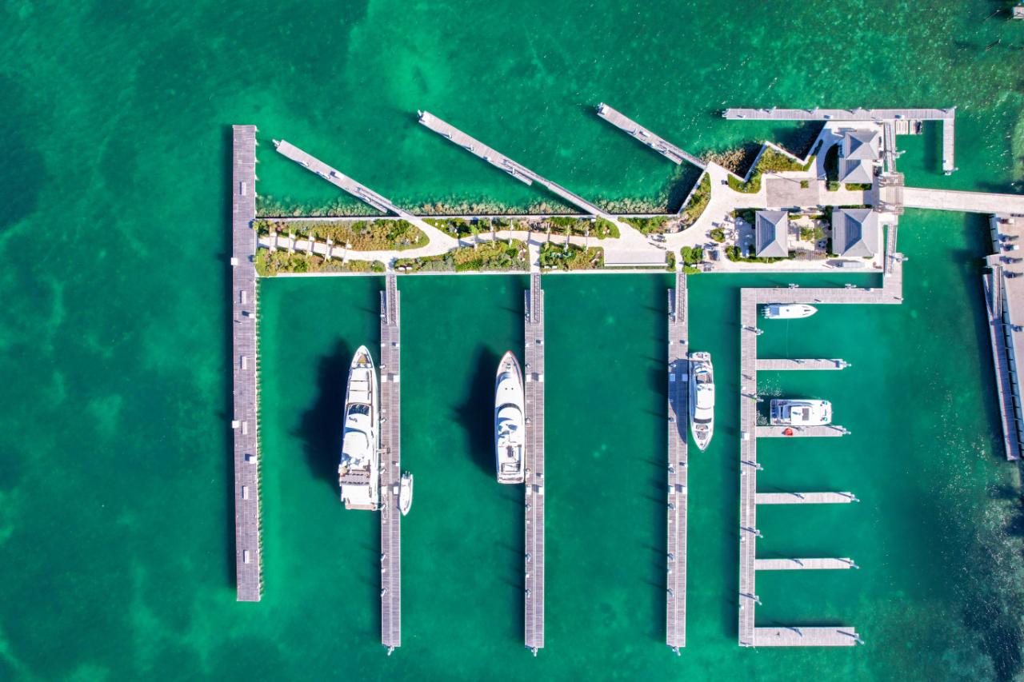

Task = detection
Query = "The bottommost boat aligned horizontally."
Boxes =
[767,399,832,425]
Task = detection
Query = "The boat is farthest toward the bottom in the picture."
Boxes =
[399,472,413,517]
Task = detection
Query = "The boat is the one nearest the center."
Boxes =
[494,351,528,483]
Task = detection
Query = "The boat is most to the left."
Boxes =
[338,345,385,508]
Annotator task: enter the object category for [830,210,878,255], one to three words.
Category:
building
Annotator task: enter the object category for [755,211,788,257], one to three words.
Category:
building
